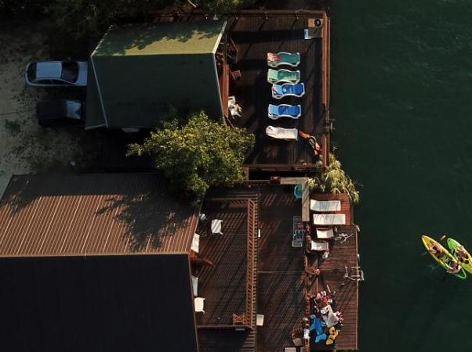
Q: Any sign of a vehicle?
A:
Yes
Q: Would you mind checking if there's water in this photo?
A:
Yes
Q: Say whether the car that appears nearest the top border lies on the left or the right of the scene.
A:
left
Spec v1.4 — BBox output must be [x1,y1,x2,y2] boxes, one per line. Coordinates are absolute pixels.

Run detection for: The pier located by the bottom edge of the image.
[308,227,360,349]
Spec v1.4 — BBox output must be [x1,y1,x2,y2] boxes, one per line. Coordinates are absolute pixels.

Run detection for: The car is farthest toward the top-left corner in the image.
[24,57,90,90]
